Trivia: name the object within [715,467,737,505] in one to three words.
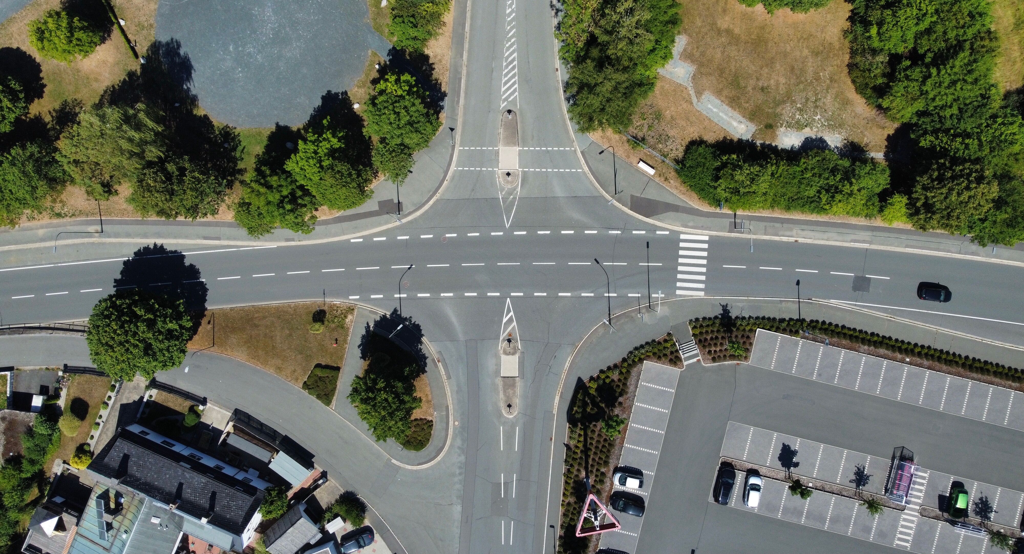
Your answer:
car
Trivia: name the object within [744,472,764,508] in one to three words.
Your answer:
car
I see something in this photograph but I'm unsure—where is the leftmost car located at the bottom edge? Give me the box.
[335,529,371,554]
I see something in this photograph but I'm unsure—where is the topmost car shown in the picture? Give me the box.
[921,287,956,306]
